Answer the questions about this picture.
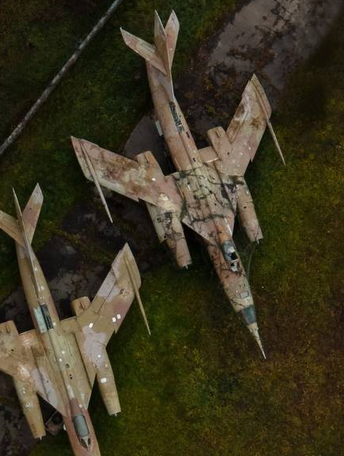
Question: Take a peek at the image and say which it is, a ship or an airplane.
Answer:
airplane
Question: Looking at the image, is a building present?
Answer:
No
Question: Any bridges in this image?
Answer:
No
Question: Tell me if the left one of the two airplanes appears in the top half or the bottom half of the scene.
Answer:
bottom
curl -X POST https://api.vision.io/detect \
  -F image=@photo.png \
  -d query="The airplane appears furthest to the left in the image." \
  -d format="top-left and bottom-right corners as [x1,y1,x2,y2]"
[0,181,152,456]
